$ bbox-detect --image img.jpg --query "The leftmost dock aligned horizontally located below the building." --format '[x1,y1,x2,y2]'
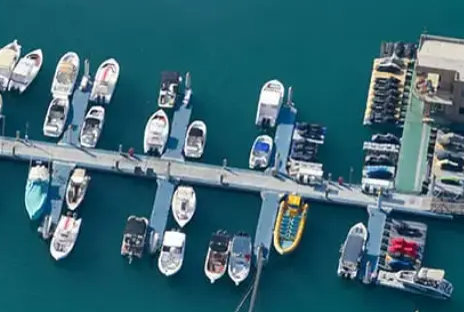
[0,137,434,214]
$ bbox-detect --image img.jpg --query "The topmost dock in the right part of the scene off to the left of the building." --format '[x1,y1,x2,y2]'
[266,102,298,173]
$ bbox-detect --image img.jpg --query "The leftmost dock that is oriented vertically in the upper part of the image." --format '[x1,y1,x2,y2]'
[55,80,91,146]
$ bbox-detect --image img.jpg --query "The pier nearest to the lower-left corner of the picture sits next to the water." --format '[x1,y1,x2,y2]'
[41,164,73,237]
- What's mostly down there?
water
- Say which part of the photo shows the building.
top right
